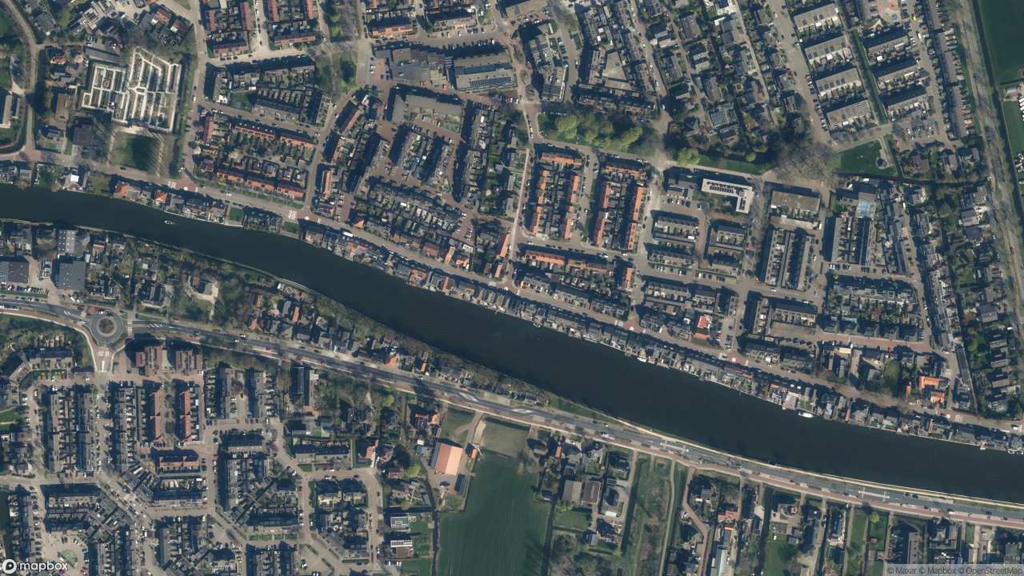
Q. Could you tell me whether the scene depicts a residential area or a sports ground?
residential area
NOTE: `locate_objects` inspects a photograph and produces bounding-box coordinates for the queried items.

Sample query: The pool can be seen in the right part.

[855,204,876,218]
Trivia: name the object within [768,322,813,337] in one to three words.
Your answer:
building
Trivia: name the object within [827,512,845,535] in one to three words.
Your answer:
house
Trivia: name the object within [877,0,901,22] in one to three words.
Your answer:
playground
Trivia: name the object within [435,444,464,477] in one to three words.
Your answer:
shed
